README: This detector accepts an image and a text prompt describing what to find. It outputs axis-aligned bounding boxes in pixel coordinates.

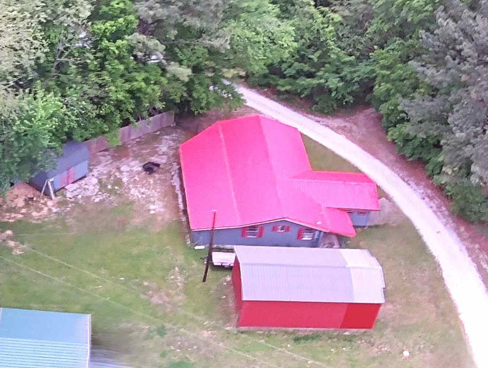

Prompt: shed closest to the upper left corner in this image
[32,146,92,192]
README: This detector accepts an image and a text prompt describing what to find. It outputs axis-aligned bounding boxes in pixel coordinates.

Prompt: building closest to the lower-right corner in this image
[228,246,386,329]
